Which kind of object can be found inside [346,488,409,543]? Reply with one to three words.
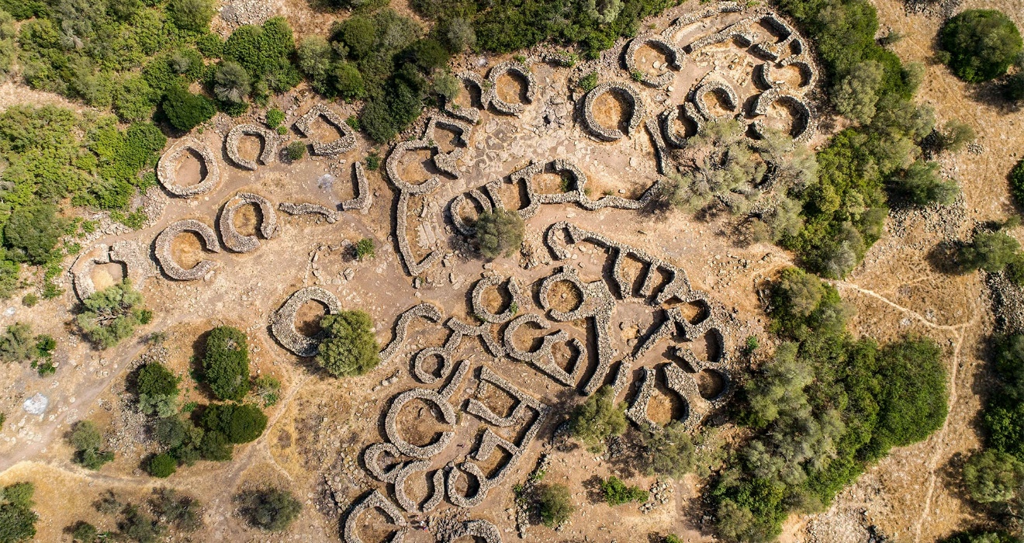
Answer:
shed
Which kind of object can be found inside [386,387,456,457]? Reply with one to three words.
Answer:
shed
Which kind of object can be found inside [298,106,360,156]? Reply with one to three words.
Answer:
house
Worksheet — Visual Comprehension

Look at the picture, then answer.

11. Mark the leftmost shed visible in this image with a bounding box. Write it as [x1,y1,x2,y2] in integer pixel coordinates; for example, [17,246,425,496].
[72,245,147,299]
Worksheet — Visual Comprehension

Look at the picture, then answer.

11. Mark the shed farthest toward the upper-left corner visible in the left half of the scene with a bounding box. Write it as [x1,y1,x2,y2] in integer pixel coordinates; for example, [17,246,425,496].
[159,138,222,197]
